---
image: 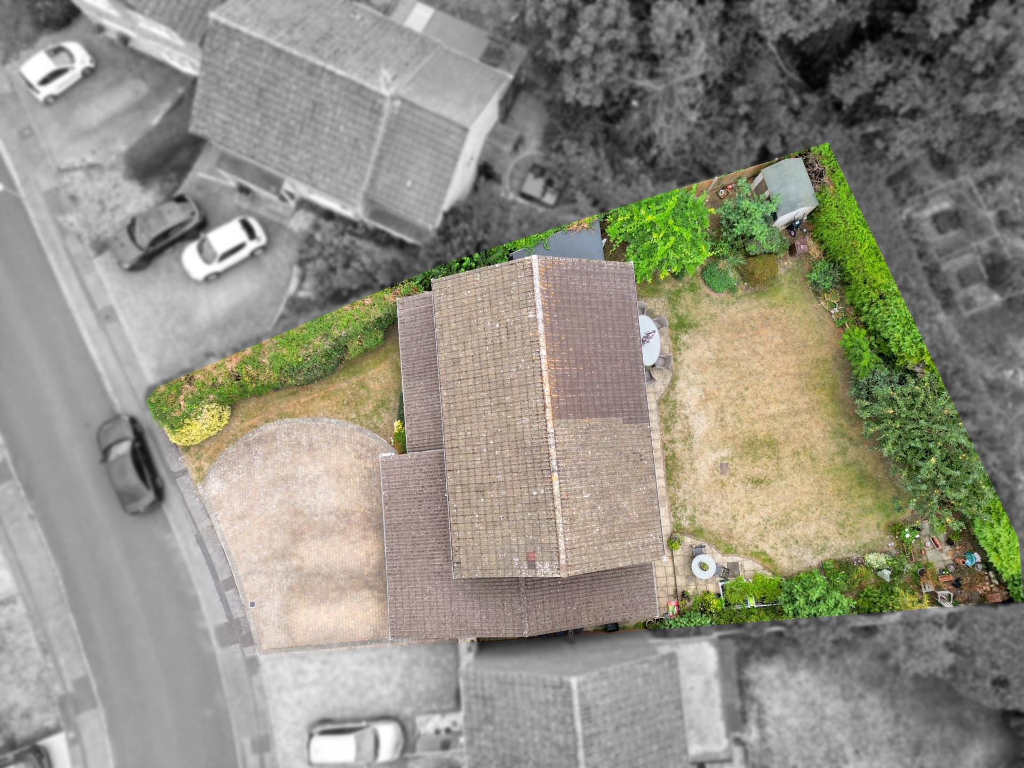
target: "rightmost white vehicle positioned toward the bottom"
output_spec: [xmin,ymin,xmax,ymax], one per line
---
[308,718,404,768]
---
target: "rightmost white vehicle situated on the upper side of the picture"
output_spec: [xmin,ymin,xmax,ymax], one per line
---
[179,216,268,280]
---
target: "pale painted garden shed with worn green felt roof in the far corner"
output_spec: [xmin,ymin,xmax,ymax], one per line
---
[748,158,819,229]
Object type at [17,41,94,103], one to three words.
car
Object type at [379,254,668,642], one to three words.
house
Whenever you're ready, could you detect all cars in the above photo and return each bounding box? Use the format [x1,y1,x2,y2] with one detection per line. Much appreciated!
[114,191,208,272]
[17,41,94,103]
[0,727,62,768]
[179,216,268,280]
[308,718,404,768]
[99,414,167,516]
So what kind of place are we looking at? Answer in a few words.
residential area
